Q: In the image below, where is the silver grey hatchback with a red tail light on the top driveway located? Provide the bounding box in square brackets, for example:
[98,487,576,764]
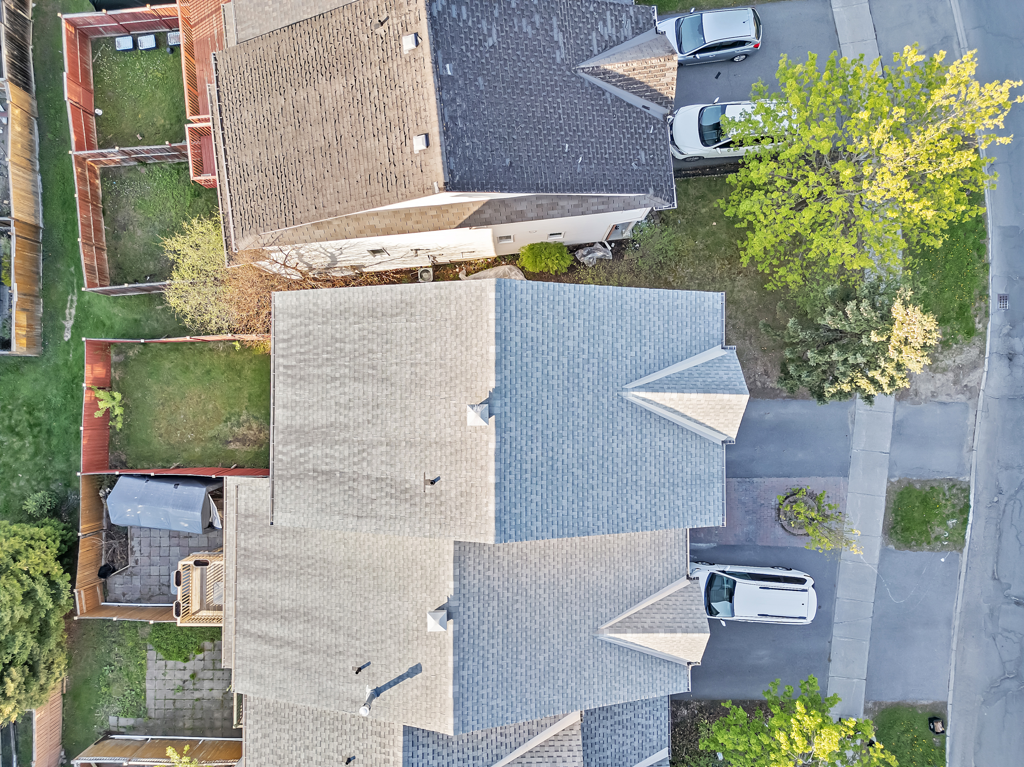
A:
[660,0,760,60]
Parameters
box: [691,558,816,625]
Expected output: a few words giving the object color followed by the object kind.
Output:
white car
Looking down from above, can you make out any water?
No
